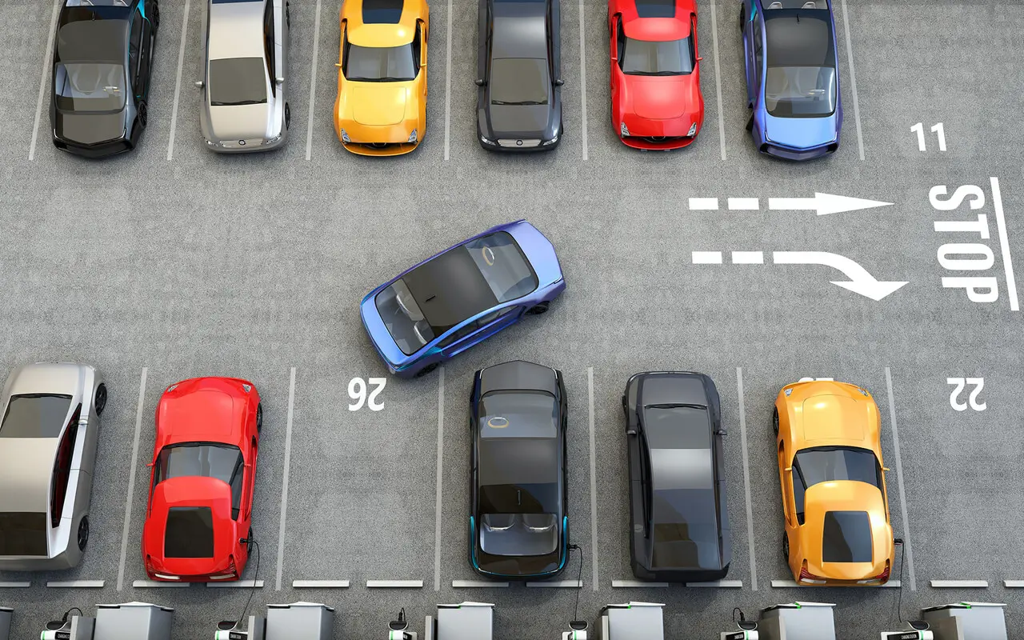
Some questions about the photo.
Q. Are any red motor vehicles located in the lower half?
Yes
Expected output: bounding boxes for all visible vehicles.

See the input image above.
[0,365,105,576]
[472,0,567,152]
[55,0,155,161]
[776,381,895,587]
[358,219,565,380]
[332,0,429,161]
[193,0,295,153]
[143,379,259,584]
[470,359,567,580]
[622,372,729,584]
[742,0,841,161]
[609,0,705,156]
